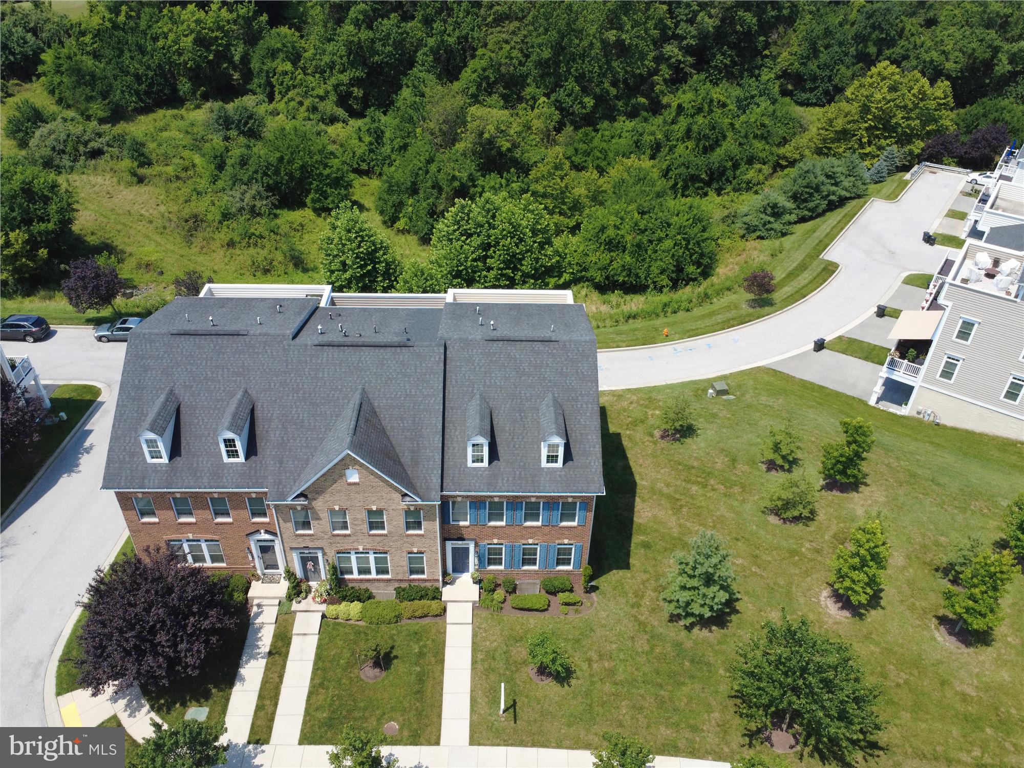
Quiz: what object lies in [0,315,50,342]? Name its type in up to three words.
car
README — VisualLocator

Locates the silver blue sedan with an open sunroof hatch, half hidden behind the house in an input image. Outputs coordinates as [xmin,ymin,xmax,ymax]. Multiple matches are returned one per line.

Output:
[92,318,142,342]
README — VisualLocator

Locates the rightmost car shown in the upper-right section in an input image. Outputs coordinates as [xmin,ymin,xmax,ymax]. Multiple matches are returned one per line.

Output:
[967,174,994,186]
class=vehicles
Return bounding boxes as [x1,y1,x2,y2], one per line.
[92,318,142,342]
[0,315,50,342]
[967,174,994,186]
